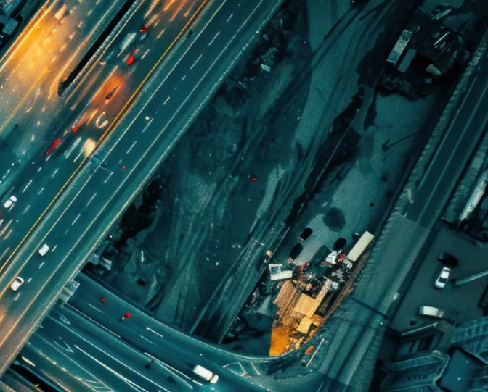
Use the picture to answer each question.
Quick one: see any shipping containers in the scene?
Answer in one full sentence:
Yes, the picture does show a shipping container.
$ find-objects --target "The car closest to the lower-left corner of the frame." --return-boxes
[10,275,24,291]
